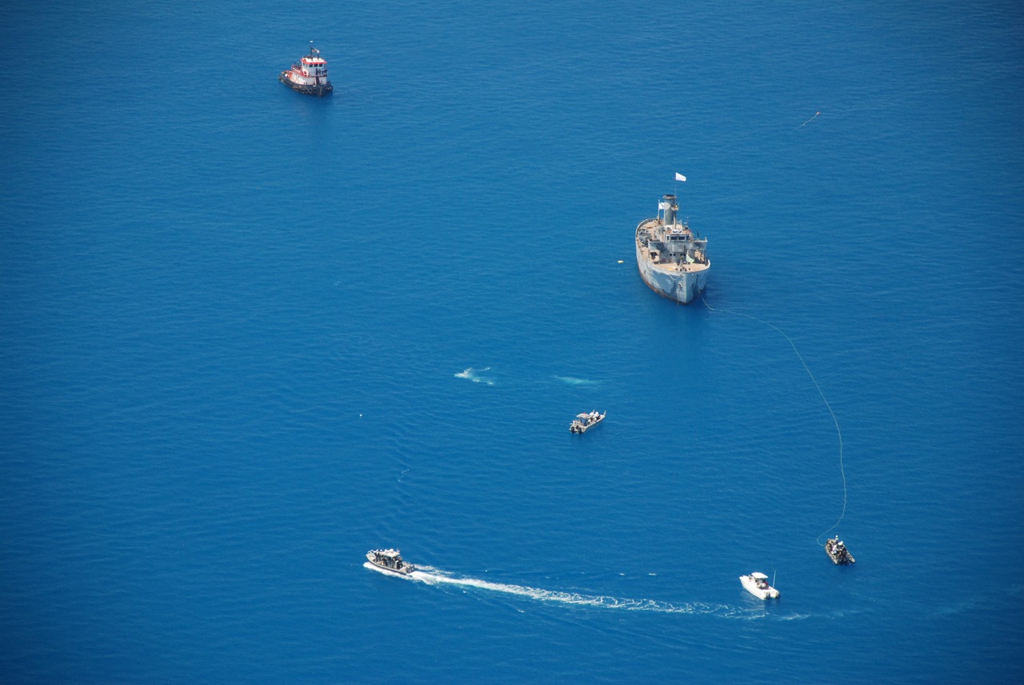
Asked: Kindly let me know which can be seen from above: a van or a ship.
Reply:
ship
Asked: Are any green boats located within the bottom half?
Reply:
No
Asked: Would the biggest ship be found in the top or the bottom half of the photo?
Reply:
top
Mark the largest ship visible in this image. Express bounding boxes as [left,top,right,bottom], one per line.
[636,173,712,303]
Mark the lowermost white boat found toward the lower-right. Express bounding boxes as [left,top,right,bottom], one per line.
[738,573,779,600]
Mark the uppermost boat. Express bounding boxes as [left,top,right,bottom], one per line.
[282,48,333,95]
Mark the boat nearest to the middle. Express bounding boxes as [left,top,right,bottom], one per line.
[569,409,605,434]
